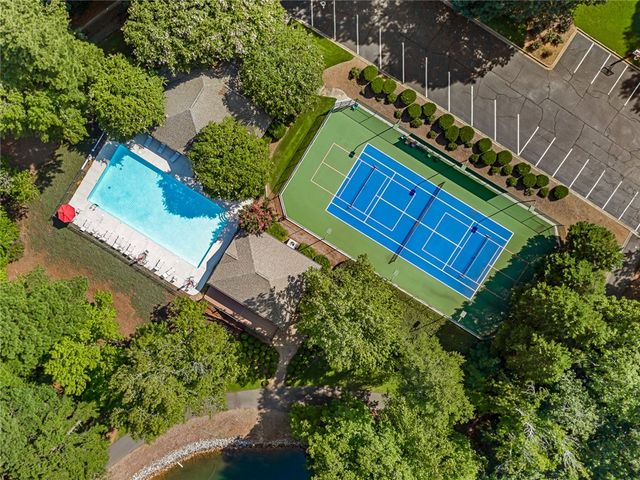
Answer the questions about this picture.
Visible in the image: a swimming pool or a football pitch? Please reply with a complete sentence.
I can see a swimming pool in this picture.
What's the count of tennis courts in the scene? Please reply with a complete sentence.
My tally gives 1 tennis court in this photo.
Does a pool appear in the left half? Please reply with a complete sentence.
Yes, a pool can be seen in the left half.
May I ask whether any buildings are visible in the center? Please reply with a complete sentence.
Yes, the scene does show a building in the center.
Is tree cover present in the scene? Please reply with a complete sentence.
Yes, tree cover shows up in the scene.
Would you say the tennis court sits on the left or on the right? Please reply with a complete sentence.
The tennis court appears in the right half of the scene.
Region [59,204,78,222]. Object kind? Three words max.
umbrella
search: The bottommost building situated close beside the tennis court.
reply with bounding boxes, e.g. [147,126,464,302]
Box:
[205,224,318,343]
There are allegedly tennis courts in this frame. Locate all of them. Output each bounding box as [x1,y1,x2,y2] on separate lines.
[279,99,560,340]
